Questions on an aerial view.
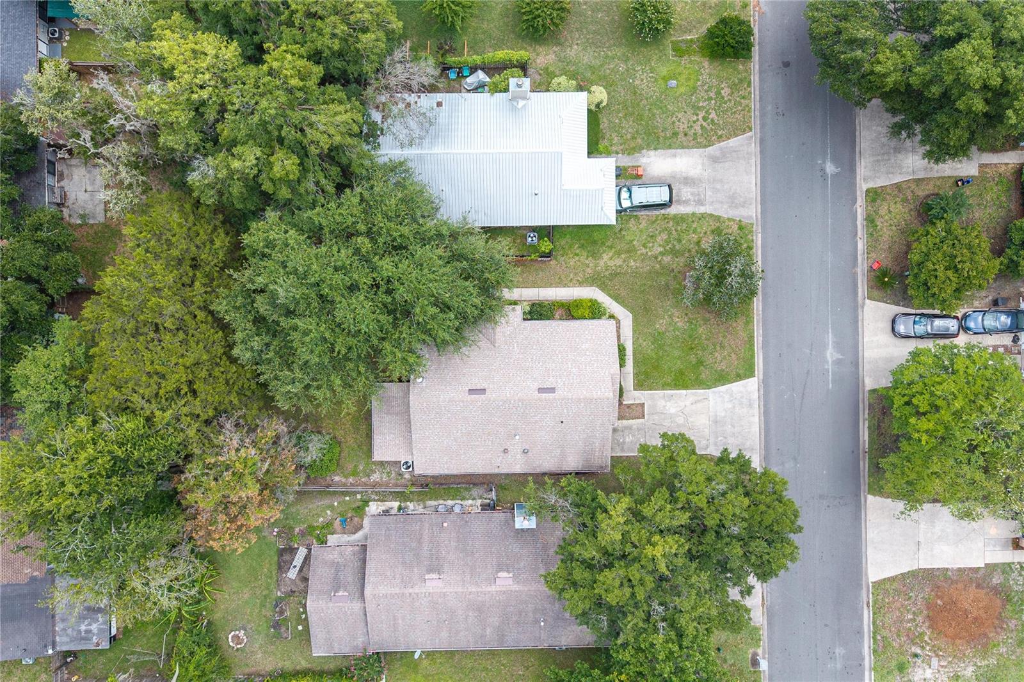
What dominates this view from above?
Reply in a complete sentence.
For the most part, this view shows trees.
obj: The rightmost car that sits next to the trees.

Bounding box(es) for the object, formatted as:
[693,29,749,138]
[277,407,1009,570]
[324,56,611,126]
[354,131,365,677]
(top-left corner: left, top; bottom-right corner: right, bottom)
[962,306,1024,337]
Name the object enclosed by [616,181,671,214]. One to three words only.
car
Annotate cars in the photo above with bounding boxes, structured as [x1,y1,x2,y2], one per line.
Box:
[616,181,671,214]
[962,306,1024,337]
[892,309,960,341]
